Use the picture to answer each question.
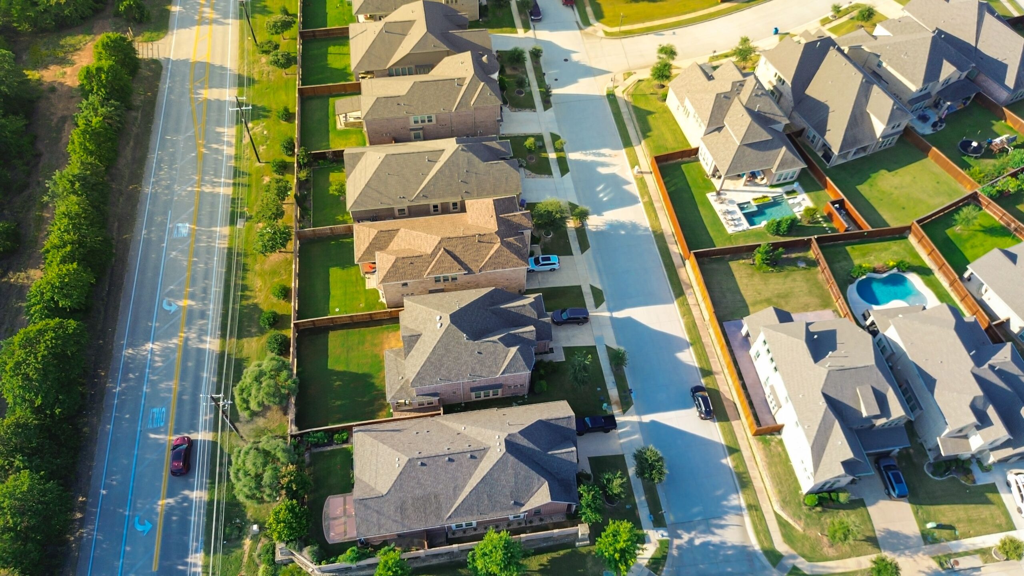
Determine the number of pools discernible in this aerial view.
two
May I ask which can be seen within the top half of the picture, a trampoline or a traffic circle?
trampoline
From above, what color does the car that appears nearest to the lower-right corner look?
white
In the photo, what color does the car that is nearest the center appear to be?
blue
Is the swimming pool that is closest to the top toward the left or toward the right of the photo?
right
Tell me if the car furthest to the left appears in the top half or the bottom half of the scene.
bottom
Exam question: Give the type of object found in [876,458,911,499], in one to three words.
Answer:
car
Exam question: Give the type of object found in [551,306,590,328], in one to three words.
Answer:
car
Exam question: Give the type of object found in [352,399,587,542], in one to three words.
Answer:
house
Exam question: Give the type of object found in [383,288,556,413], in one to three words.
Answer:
house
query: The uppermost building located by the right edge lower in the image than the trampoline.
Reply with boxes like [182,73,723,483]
[963,241,1024,344]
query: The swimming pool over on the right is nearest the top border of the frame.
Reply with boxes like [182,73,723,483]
[707,181,809,233]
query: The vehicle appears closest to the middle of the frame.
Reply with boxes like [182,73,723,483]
[528,254,563,274]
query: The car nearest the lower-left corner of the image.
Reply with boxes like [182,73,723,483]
[170,437,193,477]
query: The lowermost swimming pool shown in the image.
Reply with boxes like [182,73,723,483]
[848,268,943,326]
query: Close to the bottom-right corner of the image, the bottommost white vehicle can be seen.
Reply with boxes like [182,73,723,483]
[999,471,1024,513]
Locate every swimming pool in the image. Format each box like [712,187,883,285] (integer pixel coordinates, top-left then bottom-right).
[707,181,809,233]
[848,268,943,326]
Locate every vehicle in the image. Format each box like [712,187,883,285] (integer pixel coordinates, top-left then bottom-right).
[527,0,543,20]
[999,471,1024,513]
[551,306,590,328]
[690,386,716,423]
[876,458,911,499]
[170,437,193,477]
[528,254,563,274]
[577,413,621,438]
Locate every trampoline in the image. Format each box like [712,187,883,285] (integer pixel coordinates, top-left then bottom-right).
[958,130,990,157]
